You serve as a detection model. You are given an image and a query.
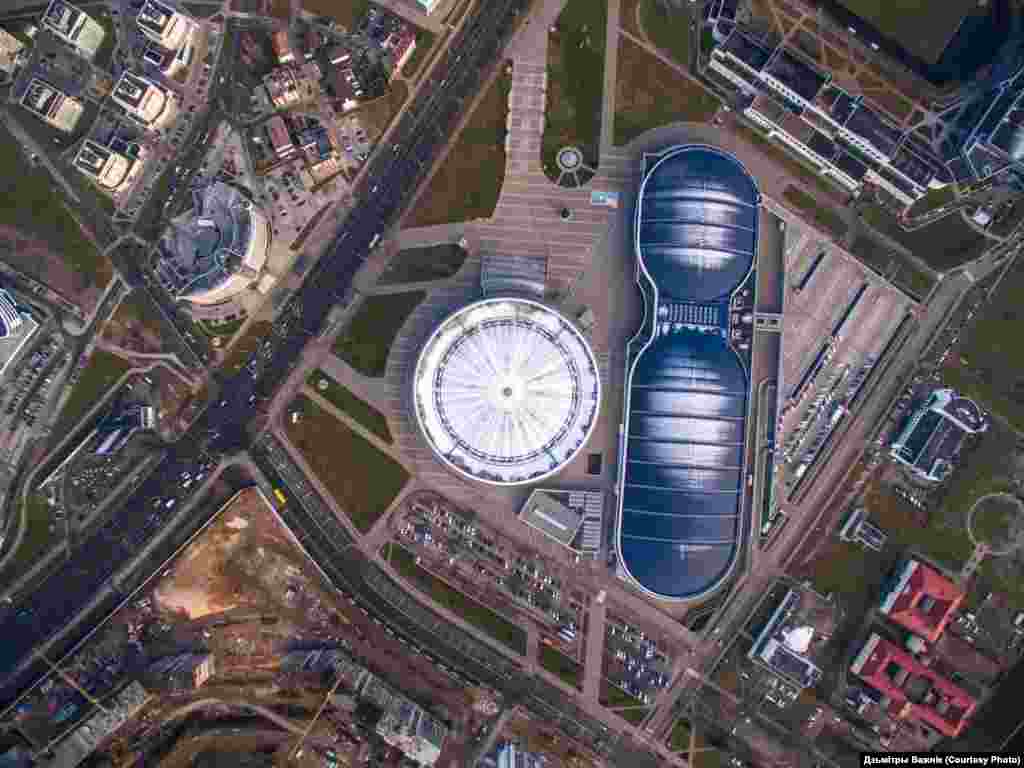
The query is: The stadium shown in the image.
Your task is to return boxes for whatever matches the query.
[413,297,602,486]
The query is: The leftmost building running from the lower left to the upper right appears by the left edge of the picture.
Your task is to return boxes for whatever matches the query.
[0,318,45,380]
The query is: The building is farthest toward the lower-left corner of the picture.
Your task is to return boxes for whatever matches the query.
[38,671,154,768]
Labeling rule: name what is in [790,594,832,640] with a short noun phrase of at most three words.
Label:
building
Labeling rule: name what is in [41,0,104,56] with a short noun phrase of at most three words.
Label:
building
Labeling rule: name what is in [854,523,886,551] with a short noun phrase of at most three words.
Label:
house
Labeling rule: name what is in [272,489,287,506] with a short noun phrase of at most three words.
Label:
vehicle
